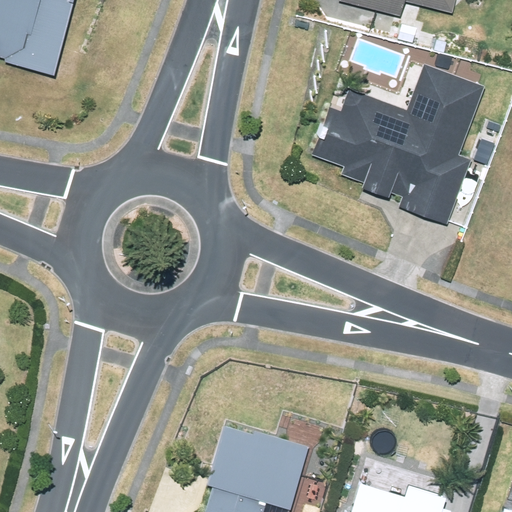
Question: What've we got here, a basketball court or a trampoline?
trampoline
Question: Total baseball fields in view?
none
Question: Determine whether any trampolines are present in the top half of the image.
No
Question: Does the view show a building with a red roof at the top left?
No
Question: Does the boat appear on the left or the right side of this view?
right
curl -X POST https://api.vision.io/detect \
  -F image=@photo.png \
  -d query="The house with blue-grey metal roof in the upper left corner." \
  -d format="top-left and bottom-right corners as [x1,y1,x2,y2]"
[0,0,76,76]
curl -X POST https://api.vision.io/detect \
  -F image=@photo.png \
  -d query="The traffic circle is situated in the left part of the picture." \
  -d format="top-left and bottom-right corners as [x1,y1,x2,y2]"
[42,127,274,364]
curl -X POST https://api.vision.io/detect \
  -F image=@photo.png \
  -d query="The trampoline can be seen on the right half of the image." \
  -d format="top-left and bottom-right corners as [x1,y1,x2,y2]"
[370,428,396,455]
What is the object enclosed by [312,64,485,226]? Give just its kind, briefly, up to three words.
house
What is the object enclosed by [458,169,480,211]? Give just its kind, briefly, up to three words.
boat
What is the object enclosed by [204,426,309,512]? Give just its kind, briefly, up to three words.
house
